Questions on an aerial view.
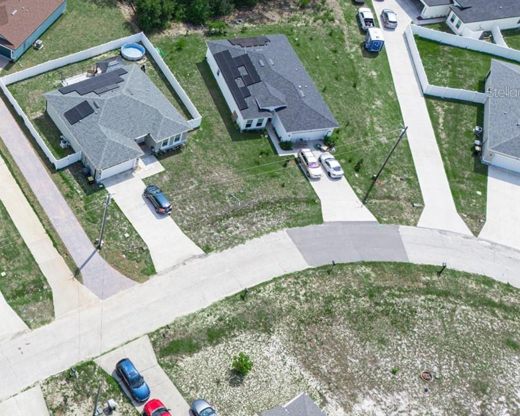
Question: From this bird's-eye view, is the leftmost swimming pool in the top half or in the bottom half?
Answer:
top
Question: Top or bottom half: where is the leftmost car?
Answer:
bottom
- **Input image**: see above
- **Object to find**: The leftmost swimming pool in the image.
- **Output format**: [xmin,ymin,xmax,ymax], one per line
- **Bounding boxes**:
[120,40,147,63]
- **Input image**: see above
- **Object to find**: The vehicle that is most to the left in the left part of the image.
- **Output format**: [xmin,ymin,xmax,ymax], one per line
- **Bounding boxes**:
[113,356,152,405]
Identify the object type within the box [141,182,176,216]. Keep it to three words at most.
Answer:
car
